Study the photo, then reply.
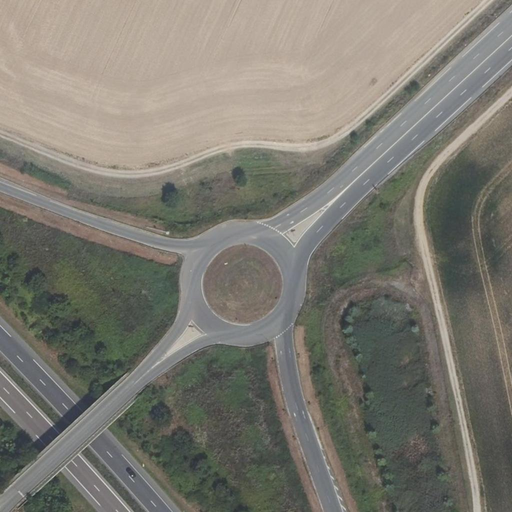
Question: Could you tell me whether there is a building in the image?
No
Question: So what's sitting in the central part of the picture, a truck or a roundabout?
roundabout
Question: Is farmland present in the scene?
Yes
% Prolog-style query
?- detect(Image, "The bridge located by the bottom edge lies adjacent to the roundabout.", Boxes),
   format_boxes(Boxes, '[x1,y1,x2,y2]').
[0,365,152,512]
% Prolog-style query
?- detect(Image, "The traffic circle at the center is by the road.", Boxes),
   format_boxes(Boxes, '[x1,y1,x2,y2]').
[158,192,342,364]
